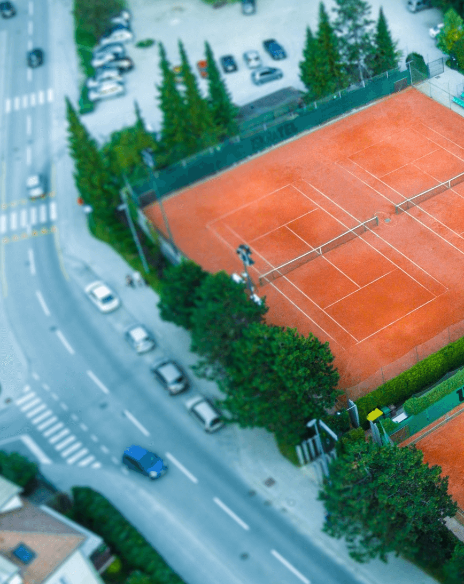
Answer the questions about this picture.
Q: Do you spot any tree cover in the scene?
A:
Yes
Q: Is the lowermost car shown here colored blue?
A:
Yes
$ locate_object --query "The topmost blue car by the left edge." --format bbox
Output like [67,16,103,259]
[0,0,17,17]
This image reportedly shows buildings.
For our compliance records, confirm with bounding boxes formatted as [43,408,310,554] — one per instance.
[237,86,307,133]
[0,496,102,584]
